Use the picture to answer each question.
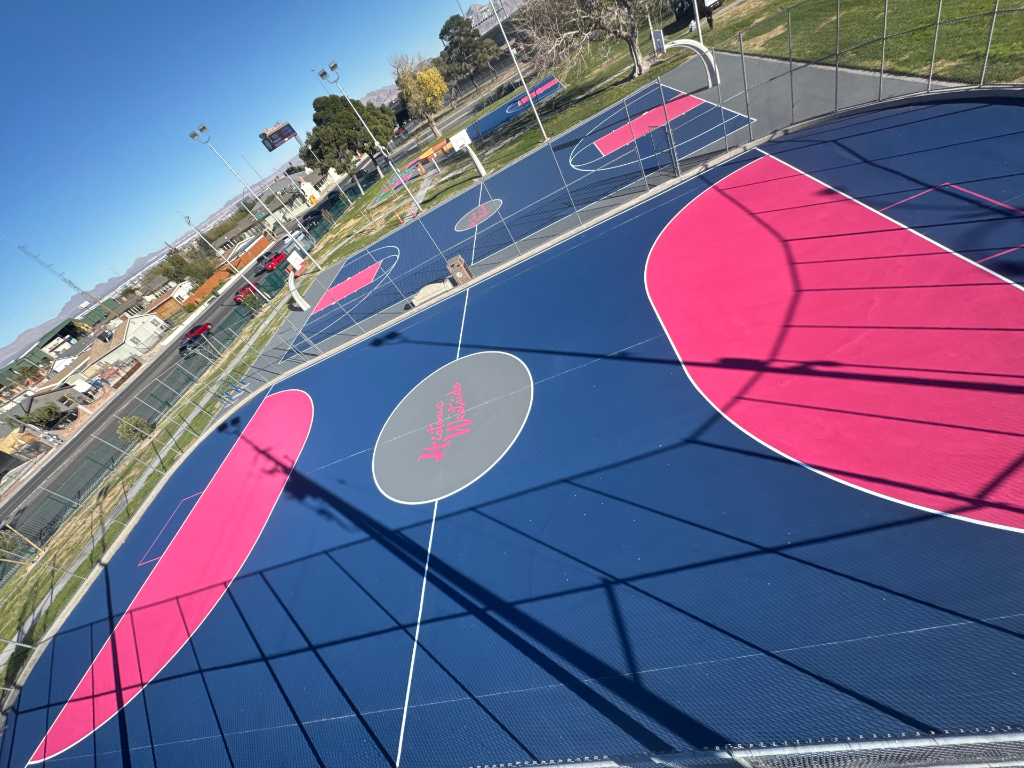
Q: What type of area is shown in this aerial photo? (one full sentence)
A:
This image shows a sports ground.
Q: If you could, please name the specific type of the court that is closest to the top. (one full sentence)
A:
The court that is closest to the top appears to be a basketball court.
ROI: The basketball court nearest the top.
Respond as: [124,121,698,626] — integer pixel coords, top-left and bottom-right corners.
[470,75,563,140]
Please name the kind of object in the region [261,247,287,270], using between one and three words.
car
